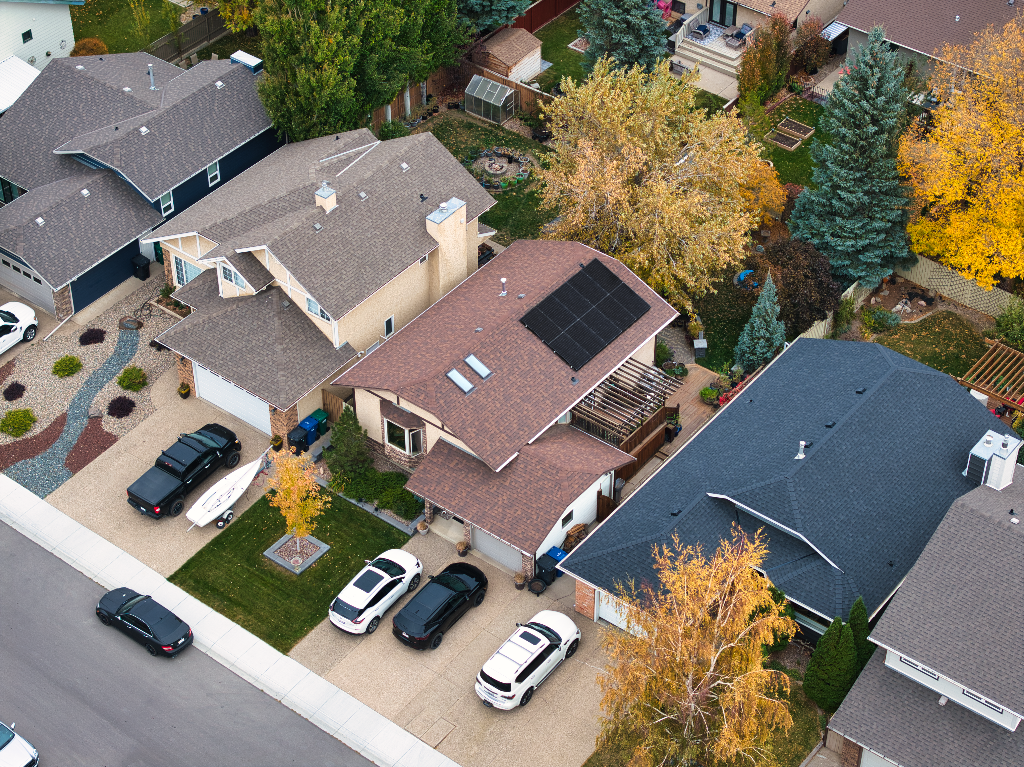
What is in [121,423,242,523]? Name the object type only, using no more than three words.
truck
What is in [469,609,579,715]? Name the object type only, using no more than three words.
car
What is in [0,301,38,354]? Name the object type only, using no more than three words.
truck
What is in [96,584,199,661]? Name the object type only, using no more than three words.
car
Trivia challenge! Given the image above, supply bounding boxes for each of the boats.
[185,445,273,532]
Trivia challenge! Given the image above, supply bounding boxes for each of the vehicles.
[96,584,199,661]
[386,563,486,656]
[320,549,420,640]
[121,423,242,523]
[0,301,38,354]
[0,720,38,767]
[469,609,579,715]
